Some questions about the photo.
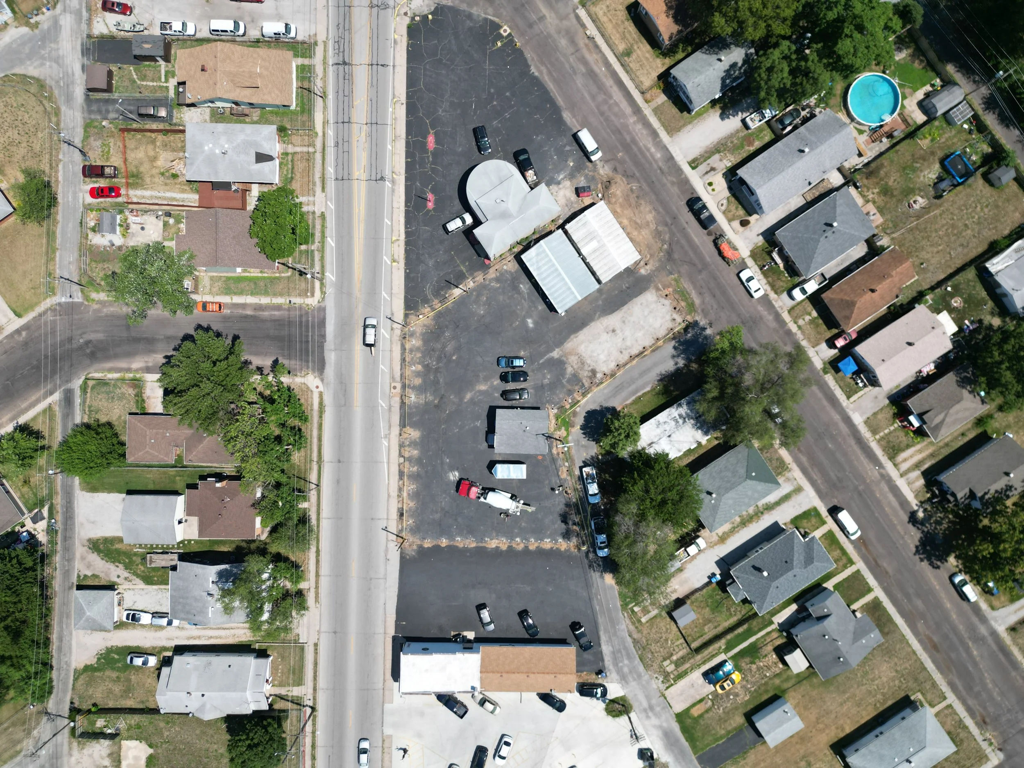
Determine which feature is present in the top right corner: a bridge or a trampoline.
trampoline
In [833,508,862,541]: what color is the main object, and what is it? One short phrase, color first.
white vehicle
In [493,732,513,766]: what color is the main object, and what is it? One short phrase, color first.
white car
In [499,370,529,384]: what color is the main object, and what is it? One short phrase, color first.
black car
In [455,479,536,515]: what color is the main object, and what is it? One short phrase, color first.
white truck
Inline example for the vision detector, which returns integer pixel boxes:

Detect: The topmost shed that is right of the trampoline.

[982,164,1019,193]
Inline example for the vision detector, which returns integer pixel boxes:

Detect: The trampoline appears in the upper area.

[942,151,975,183]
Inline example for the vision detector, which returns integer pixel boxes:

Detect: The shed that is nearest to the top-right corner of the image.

[921,83,965,121]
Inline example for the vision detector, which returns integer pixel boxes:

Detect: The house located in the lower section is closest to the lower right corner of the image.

[842,700,957,768]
